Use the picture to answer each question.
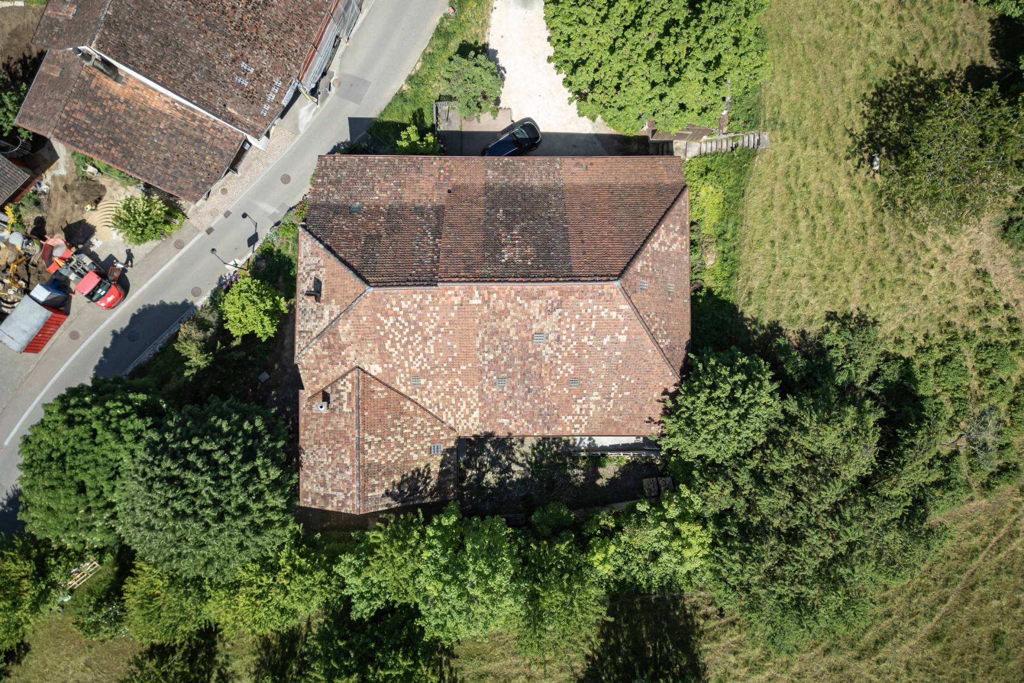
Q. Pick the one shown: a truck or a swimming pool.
truck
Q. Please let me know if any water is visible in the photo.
No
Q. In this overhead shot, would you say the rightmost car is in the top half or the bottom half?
top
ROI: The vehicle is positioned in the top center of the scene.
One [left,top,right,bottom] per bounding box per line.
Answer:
[475,116,543,154]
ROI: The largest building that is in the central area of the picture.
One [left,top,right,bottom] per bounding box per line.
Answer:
[294,154,693,514]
